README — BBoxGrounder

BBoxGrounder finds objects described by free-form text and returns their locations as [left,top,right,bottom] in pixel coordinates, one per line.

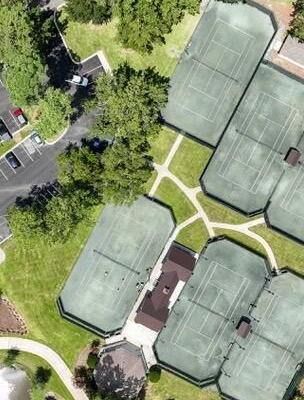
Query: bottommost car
[7,150,21,168]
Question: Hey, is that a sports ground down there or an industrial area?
sports ground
